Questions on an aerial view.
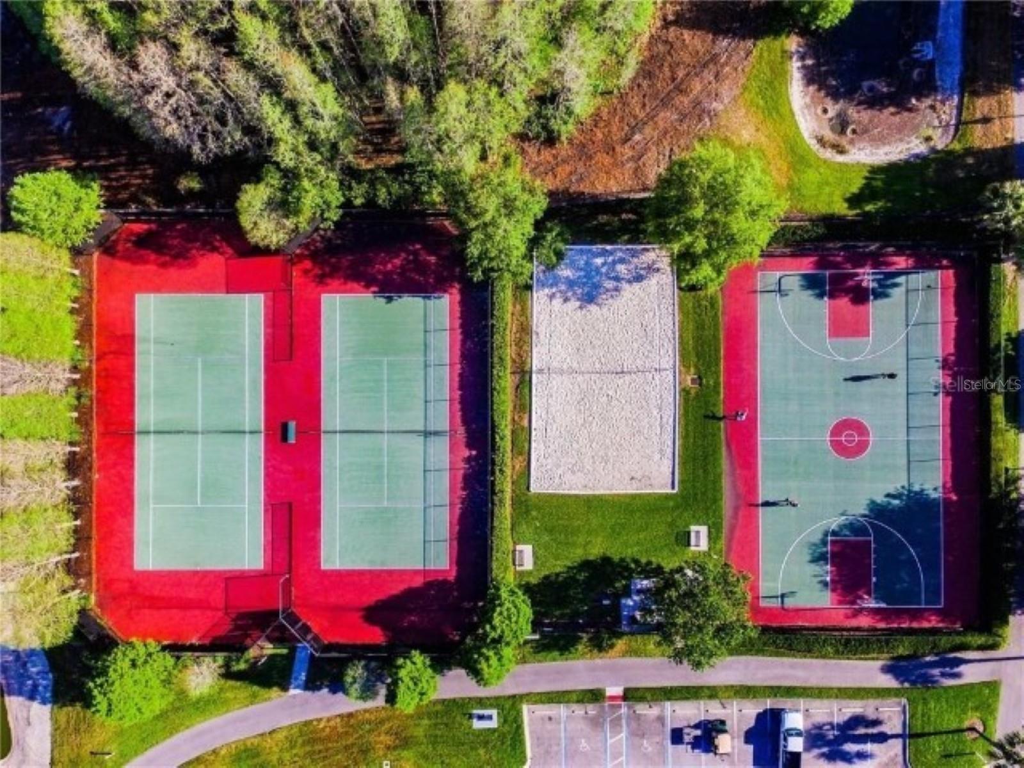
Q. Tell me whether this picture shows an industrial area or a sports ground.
sports ground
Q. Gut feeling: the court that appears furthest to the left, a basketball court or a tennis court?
tennis court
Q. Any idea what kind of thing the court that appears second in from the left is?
tennis court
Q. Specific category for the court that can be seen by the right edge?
basketball court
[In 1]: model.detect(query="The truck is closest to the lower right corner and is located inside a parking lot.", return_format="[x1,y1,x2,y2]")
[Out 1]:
[776,707,806,768]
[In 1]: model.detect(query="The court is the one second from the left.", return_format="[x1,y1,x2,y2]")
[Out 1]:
[291,221,491,643]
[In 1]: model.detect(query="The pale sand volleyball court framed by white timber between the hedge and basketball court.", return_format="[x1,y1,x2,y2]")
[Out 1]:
[529,244,678,494]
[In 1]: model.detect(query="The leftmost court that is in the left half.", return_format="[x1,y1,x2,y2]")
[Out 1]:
[93,221,291,643]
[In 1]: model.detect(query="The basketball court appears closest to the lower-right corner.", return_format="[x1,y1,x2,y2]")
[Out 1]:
[723,252,974,626]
